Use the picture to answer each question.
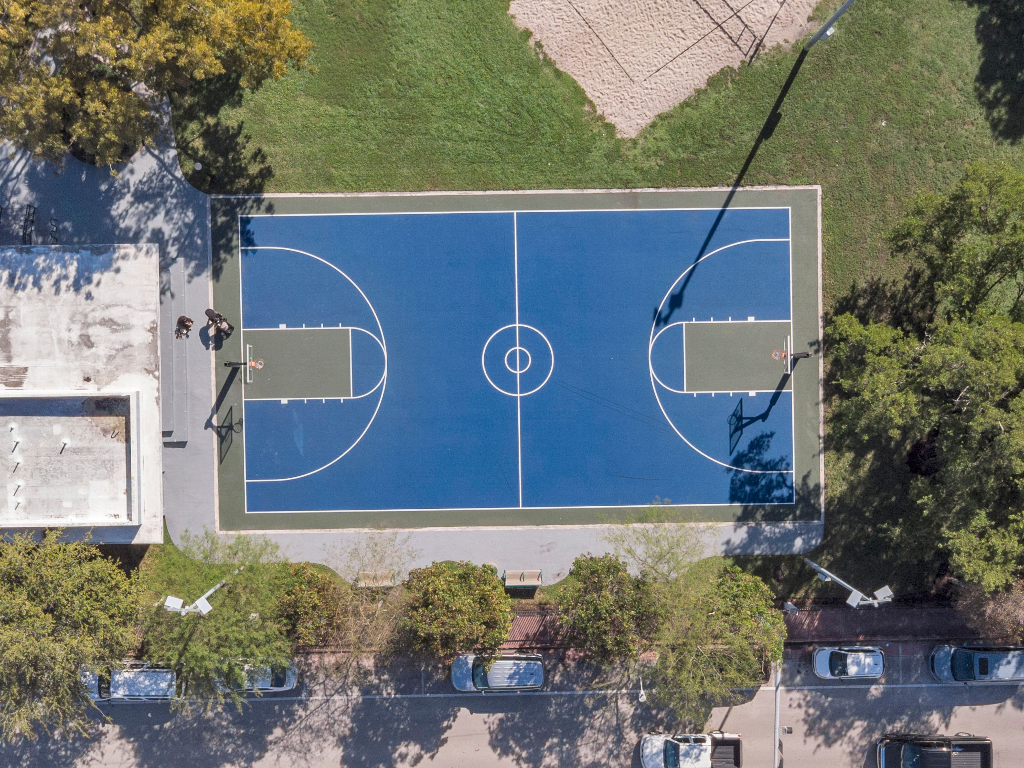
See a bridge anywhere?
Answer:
No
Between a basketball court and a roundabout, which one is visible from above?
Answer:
basketball court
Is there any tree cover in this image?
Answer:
Yes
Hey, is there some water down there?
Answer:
No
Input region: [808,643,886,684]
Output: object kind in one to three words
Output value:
car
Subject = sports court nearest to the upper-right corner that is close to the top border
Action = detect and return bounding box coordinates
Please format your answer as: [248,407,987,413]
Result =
[503,0,817,137]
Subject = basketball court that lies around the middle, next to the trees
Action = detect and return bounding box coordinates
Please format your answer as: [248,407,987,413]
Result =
[206,185,825,534]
